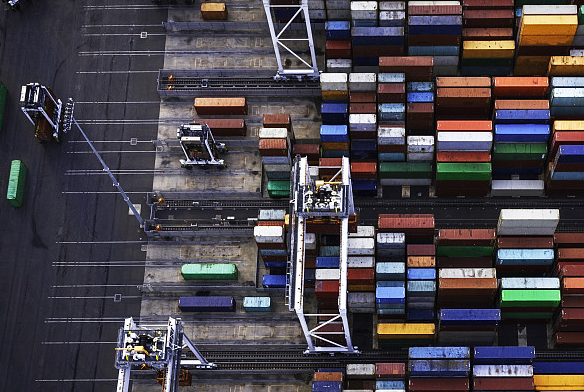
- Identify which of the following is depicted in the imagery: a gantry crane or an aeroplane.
gantry crane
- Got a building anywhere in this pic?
No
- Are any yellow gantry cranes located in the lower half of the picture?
No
